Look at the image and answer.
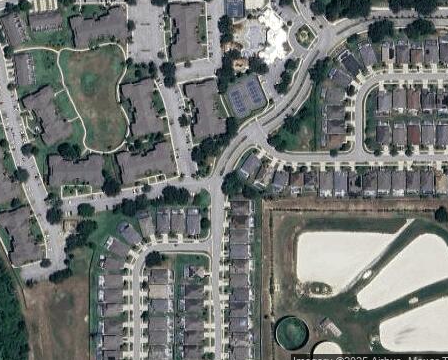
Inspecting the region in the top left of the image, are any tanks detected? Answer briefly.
No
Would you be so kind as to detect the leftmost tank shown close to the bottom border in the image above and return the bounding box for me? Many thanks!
[276,317,308,348]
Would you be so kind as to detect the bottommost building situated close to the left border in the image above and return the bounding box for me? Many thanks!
[0,204,44,269]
